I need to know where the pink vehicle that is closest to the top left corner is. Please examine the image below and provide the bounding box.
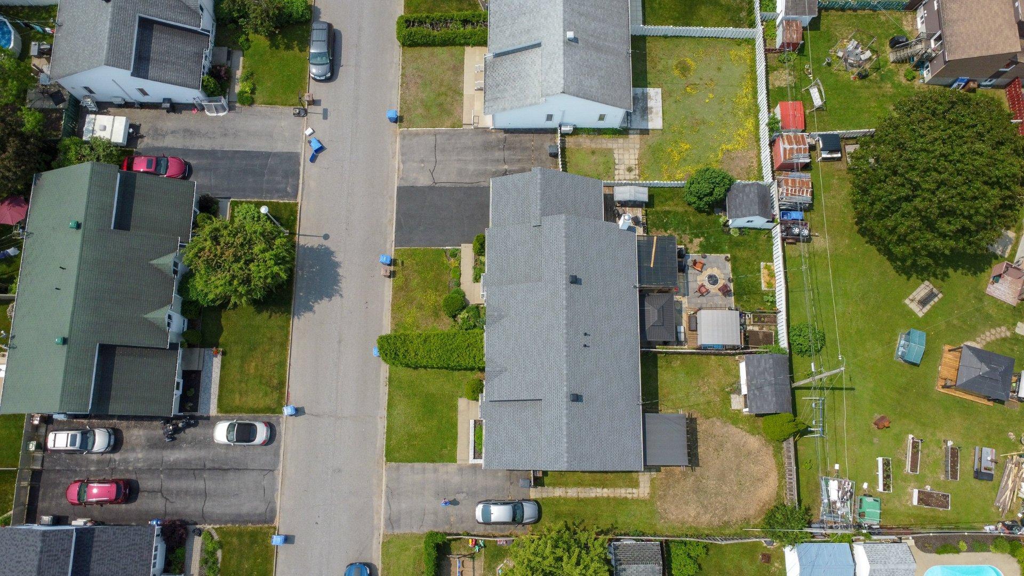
[123,154,189,181]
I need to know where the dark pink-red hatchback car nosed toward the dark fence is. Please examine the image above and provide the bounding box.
[65,476,133,508]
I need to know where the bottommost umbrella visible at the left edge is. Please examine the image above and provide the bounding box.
[0,190,30,225]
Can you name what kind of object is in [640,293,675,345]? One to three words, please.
gazebo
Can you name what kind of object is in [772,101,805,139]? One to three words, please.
shed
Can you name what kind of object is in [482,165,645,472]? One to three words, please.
house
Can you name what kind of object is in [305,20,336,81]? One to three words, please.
car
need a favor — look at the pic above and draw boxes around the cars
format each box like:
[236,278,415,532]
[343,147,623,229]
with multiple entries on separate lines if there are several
[305,20,336,81]
[476,496,537,529]
[123,154,189,181]
[65,476,133,508]
[46,424,119,456]
[213,417,273,448]
[345,558,373,576]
